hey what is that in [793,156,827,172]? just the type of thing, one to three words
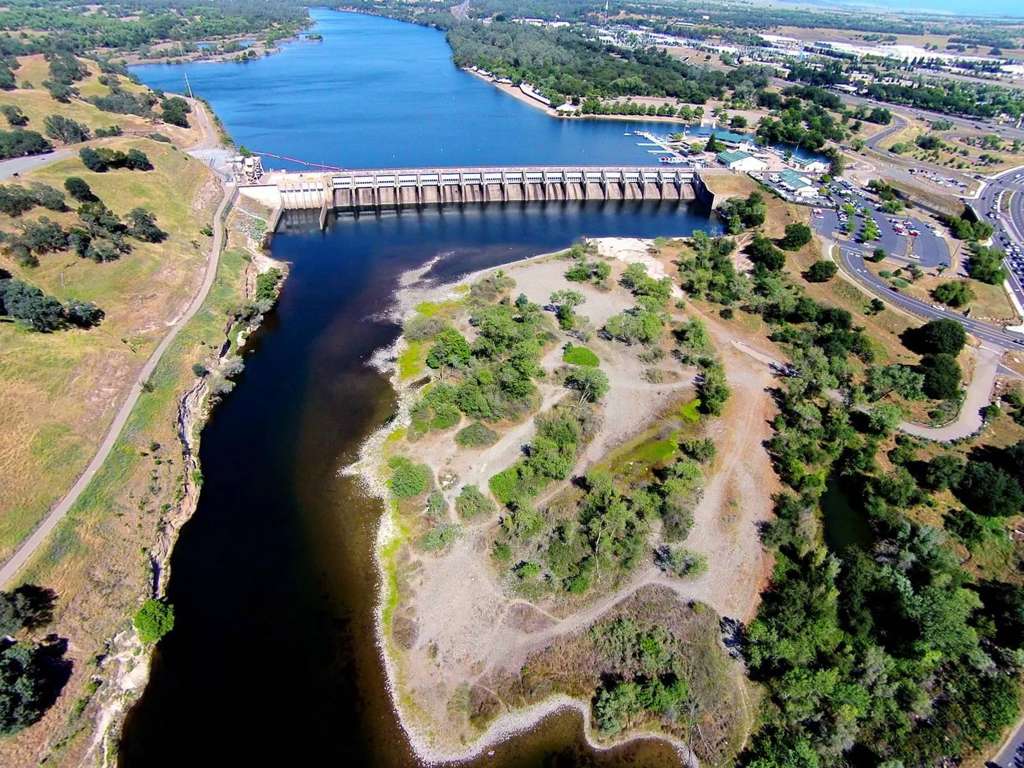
building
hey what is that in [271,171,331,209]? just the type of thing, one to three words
building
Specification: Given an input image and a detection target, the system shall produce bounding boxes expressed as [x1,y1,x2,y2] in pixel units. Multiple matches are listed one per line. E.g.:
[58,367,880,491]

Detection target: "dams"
[257,164,704,208]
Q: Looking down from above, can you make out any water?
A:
Yes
